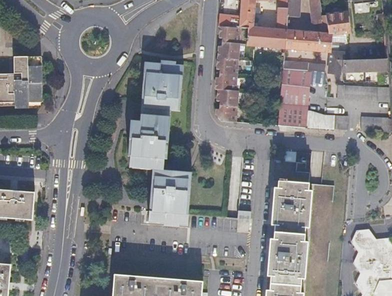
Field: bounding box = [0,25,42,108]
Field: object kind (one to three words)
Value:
building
